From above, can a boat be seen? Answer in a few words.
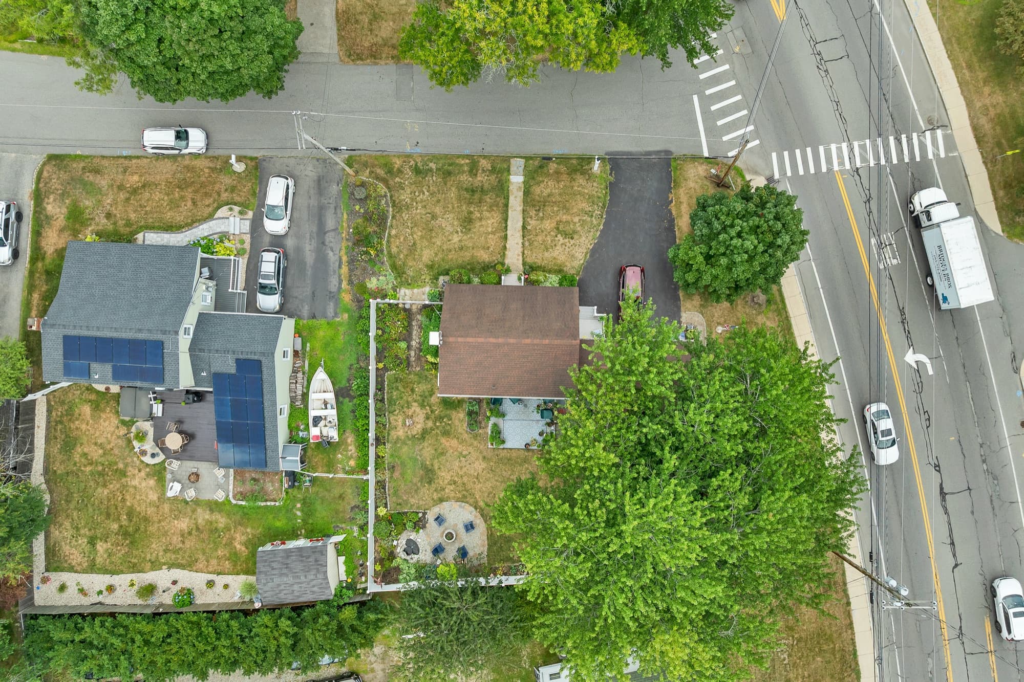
Yes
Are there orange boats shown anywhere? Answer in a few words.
No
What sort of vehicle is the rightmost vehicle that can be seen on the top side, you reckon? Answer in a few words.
truck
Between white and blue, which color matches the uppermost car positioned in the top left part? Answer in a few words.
white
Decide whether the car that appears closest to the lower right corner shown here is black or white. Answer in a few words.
white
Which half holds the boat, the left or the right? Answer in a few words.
left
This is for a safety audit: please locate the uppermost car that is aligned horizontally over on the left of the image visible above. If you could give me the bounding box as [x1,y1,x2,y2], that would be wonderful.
[141,124,209,157]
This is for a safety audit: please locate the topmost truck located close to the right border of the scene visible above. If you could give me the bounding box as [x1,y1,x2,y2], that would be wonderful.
[904,186,994,312]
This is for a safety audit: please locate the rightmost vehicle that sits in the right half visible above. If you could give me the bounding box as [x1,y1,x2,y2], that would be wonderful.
[988,574,1024,642]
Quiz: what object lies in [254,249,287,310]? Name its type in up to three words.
car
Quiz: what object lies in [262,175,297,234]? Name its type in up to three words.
car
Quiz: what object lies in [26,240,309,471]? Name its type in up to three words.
house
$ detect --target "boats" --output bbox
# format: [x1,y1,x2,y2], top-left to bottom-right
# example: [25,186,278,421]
[309,366,337,449]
